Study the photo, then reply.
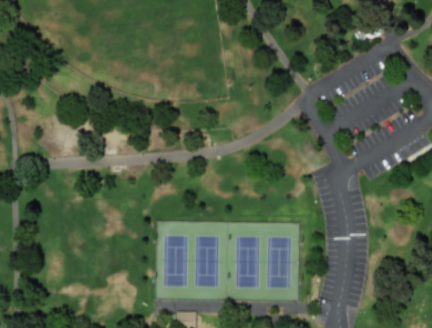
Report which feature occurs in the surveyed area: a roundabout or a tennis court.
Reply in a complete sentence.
This aerial view contains a tennis court.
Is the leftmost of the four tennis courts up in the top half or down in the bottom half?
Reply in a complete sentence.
The leftmost of the four tennis courts sits in the bottom half of the picture.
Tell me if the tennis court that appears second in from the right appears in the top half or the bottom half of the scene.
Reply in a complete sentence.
You can find the tennis court that appears second in from the right in the bottom half.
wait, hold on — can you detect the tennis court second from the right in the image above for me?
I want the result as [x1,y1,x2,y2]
[228,222,264,300]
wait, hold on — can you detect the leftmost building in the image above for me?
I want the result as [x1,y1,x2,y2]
[176,312,198,328]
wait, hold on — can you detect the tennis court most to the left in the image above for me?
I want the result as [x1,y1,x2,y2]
[158,222,192,300]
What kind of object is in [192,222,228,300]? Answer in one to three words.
tennis court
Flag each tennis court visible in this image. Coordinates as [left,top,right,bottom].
[264,222,300,300]
[228,222,264,300]
[192,222,228,300]
[158,222,192,300]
